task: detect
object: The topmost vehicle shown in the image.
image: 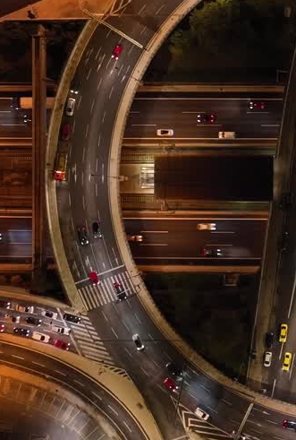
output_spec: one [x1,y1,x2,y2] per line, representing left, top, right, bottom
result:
[111,40,125,59]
